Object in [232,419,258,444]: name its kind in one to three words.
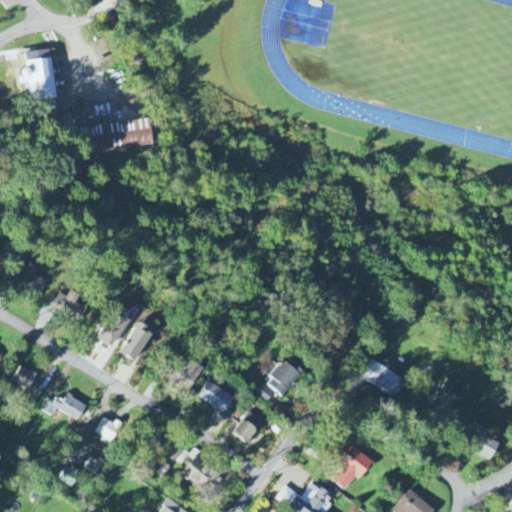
house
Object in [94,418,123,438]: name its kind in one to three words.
house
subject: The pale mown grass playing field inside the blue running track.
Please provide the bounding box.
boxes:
[280,0,512,140]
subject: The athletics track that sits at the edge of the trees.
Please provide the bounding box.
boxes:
[262,0,512,159]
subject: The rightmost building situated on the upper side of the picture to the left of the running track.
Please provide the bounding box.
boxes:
[84,118,154,152]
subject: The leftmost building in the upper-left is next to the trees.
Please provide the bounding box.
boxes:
[18,48,57,98]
